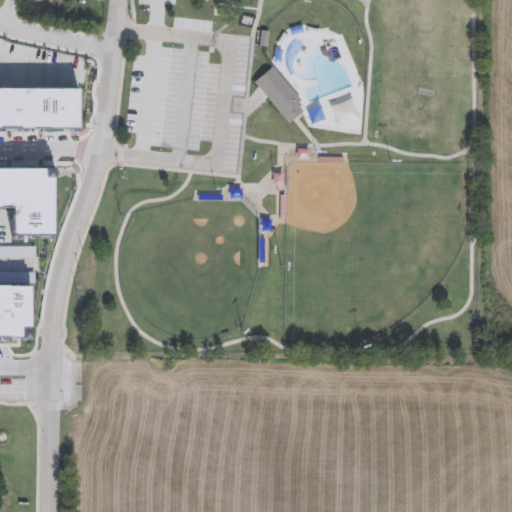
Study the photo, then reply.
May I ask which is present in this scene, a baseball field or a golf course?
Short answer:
baseball field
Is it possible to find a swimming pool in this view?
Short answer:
Yes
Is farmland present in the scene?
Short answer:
Yes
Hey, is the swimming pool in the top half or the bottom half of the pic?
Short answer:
top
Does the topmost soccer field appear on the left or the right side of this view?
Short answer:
right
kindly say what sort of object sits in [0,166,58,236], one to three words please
building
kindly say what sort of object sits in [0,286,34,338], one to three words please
building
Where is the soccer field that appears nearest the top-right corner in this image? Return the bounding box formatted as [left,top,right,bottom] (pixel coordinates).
[372,0,469,154]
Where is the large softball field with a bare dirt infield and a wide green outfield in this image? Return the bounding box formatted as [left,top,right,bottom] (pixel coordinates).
[285,164,466,350]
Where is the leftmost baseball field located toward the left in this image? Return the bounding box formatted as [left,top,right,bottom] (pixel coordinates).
[120,199,258,338]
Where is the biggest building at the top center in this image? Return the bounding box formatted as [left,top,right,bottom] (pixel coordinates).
[256,68,304,122]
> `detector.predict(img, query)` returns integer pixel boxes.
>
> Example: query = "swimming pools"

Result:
[274,26,363,135]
